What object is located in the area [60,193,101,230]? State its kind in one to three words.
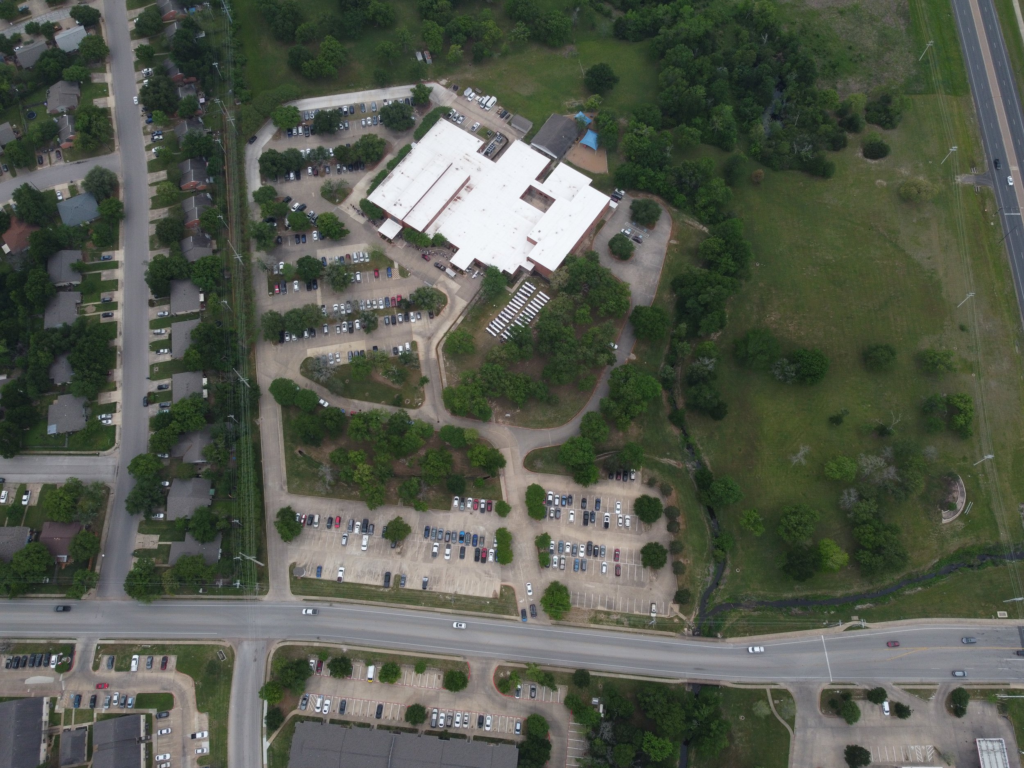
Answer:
house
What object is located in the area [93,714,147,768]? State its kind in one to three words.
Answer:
building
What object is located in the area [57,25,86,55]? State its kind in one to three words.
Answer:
house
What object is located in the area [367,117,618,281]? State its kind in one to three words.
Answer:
building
